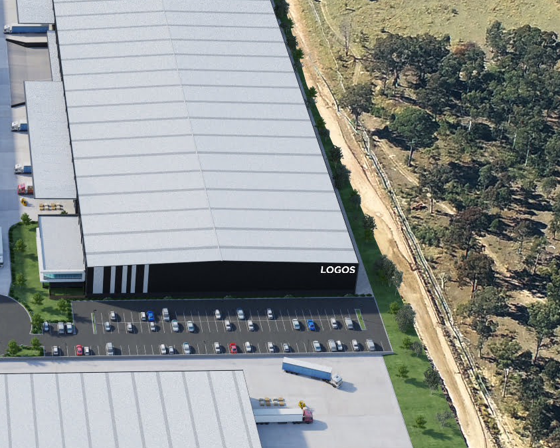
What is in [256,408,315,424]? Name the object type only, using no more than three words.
vehicle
